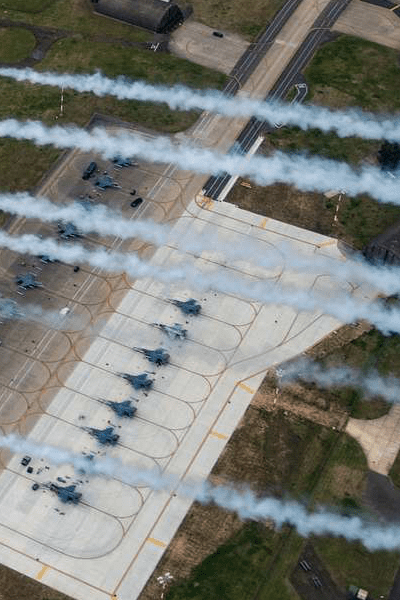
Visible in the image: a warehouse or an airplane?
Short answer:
airplane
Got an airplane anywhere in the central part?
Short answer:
Yes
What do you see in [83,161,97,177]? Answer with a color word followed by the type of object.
black vehicle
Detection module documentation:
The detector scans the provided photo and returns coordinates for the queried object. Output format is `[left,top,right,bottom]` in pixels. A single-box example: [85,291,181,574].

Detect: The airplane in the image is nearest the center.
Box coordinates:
[174,298,206,313]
